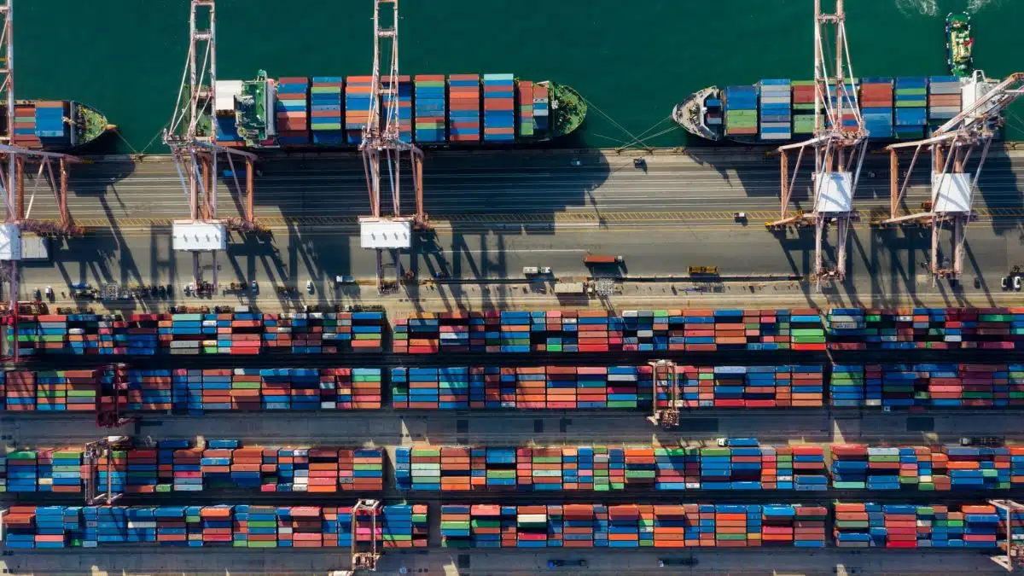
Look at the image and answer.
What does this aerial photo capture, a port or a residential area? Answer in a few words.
port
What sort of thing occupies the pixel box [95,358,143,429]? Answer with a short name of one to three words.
crane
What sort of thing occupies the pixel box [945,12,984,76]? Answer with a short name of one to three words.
boat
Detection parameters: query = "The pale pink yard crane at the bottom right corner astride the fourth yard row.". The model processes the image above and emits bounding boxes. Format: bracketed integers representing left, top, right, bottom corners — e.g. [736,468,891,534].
[978,495,1024,573]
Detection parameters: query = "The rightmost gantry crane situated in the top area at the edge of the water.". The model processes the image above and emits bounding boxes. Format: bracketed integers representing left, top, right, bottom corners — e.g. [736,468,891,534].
[859,54,1024,287]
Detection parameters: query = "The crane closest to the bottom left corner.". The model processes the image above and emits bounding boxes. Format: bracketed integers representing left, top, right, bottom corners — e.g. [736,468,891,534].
[85,430,137,506]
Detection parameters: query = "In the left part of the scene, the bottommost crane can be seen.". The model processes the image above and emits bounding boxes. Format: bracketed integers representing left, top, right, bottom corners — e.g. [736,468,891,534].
[353,489,389,571]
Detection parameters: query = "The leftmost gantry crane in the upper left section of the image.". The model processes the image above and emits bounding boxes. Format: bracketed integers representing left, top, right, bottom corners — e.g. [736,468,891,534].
[0,0,101,301]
